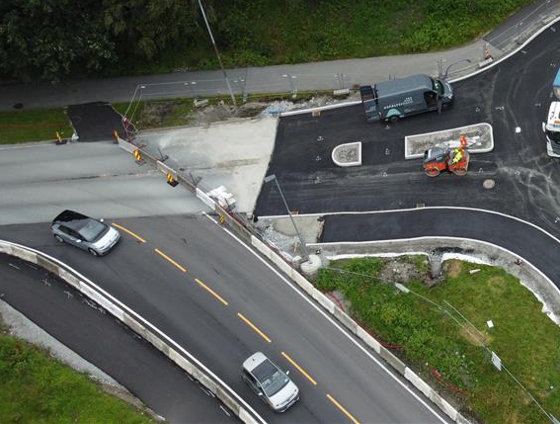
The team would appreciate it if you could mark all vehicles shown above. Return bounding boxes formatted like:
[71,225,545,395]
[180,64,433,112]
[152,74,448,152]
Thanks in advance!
[362,72,457,120]
[46,210,118,257]
[237,341,301,412]
[421,133,471,175]
[541,68,560,159]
